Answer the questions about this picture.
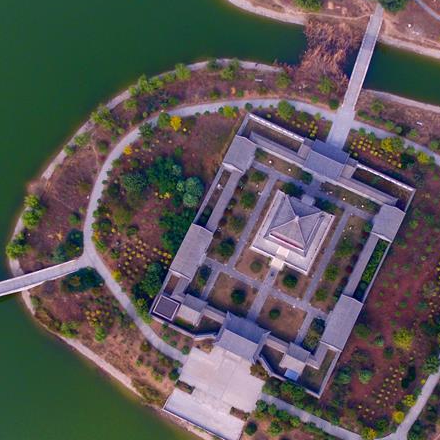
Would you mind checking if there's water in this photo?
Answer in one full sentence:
Yes, water shows up in the scene.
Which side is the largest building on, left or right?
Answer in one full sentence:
The largest building is on the right side of the image.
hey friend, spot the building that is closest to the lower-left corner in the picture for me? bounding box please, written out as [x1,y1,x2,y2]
[153,296,179,321]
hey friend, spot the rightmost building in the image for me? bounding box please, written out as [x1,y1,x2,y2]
[371,204,405,244]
